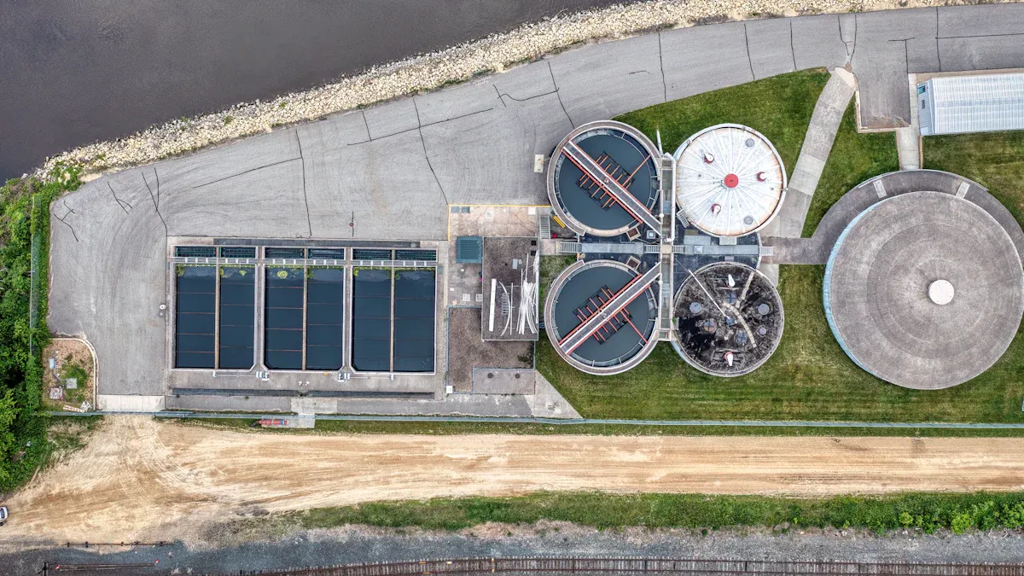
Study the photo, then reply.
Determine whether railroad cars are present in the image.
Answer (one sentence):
No, there is no railroad car in the image.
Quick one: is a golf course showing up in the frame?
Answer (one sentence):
No, I can see no golf course in this picture.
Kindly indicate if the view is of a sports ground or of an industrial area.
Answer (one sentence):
The picture captures an industrial area.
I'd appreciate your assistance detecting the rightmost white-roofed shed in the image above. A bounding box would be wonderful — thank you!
[917,72,1024,135]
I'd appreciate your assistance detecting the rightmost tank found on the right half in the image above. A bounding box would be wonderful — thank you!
[823,191,1024,389]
